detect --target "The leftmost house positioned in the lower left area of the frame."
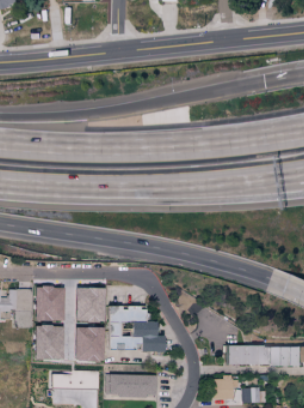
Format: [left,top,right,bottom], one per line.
[0,288,32,328]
